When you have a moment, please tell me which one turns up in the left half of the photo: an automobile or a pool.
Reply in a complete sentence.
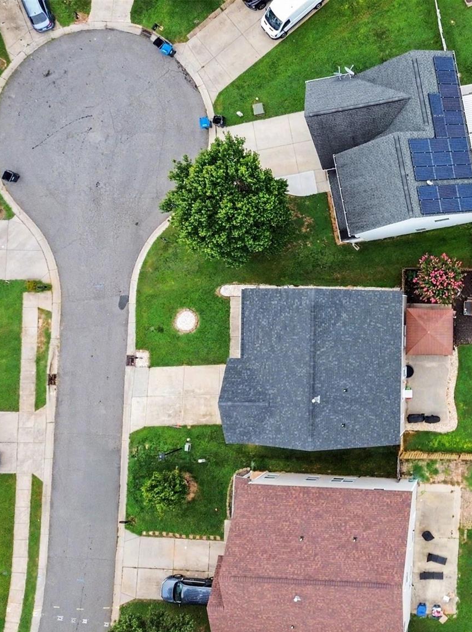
The feature located in the left half of the photo is an automobile.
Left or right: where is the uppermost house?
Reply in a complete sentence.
It is on the right.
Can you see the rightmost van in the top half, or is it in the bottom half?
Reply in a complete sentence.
The rightmost van sits in the top half of the picture.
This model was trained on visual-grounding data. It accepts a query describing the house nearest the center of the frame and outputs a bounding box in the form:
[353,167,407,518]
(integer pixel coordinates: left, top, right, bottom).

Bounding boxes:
[218,288,405,451]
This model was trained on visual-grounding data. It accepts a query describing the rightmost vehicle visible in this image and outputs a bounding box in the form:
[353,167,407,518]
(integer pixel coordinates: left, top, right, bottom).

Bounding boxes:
[260,0,326,42]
